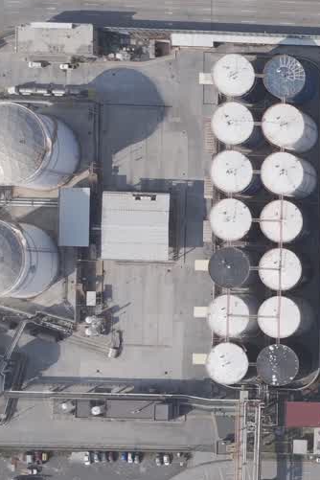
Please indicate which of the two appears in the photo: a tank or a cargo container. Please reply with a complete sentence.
Of the two, only a tank appears.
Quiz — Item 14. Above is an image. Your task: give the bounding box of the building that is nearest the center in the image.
[102,193,177,261]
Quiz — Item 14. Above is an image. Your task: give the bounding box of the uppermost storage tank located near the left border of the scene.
[0,102,81,193]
